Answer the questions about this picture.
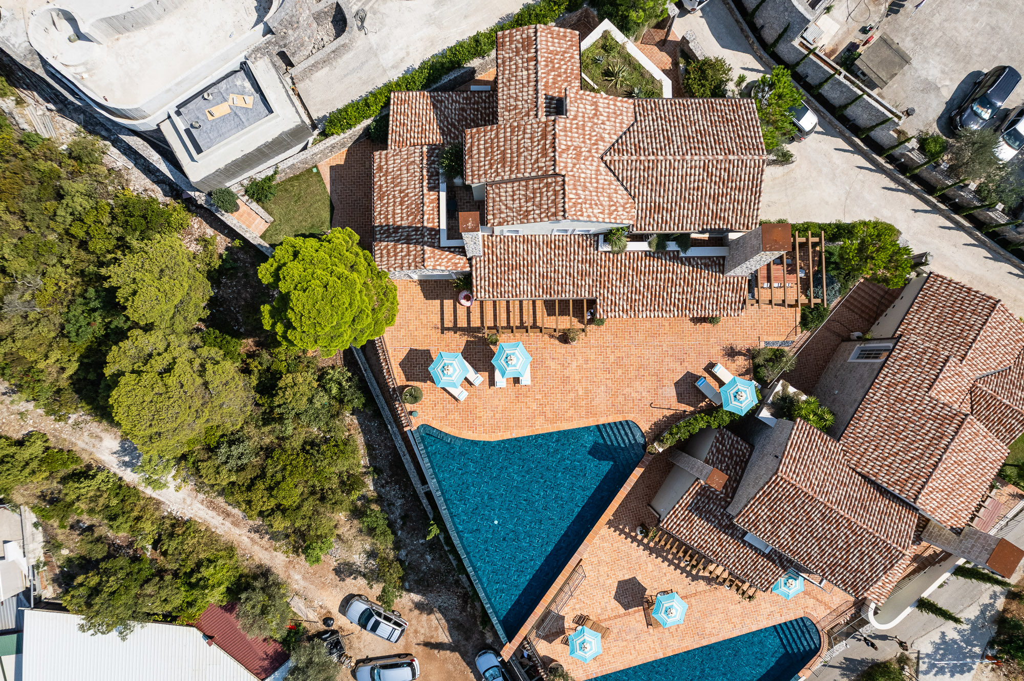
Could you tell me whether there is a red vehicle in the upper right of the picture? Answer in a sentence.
No, there's no red vehicle to be seen in the upper right of the picture.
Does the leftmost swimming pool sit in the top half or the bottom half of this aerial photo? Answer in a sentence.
The leftmost swimming pool sits in the bottom half of the picture.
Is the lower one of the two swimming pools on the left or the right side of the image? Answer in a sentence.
It is on the right.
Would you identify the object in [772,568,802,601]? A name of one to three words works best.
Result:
umbrella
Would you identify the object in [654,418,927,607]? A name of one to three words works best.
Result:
house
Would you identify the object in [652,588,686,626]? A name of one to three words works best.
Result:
umbrella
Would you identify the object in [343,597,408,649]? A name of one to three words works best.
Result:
car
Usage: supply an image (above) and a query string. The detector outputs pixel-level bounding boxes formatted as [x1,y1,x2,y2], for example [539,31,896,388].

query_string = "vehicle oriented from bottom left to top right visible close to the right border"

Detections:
[948,54,1024,138]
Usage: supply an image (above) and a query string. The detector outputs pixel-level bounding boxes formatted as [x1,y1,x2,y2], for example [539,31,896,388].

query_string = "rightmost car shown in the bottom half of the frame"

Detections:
[472,647,510,681]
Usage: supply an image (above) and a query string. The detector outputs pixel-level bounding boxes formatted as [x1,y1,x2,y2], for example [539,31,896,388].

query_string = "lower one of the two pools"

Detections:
[588,619,820,681]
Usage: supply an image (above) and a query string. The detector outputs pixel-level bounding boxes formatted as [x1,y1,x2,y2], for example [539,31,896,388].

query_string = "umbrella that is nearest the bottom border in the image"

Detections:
[569,624,602,662]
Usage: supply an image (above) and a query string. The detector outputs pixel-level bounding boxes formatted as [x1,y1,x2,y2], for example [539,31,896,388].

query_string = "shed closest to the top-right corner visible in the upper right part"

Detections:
[847,34,911,95]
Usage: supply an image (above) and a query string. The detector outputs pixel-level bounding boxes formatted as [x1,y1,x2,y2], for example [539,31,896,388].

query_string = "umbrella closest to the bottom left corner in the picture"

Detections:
[429,351,471,389]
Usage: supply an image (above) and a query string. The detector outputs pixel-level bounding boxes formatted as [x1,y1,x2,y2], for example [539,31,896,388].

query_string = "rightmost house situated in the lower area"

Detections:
[807,272,1024,579]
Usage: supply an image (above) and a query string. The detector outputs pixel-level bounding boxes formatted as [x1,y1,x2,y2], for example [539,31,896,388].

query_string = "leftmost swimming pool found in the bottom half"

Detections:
[415,421,645,639]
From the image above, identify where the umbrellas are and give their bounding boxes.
[569,624,602,662]
[429,351,471,389]
[772,568,802,601]
[491,340,533,378]
[714,375,755,416]
[652,588,686,626]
